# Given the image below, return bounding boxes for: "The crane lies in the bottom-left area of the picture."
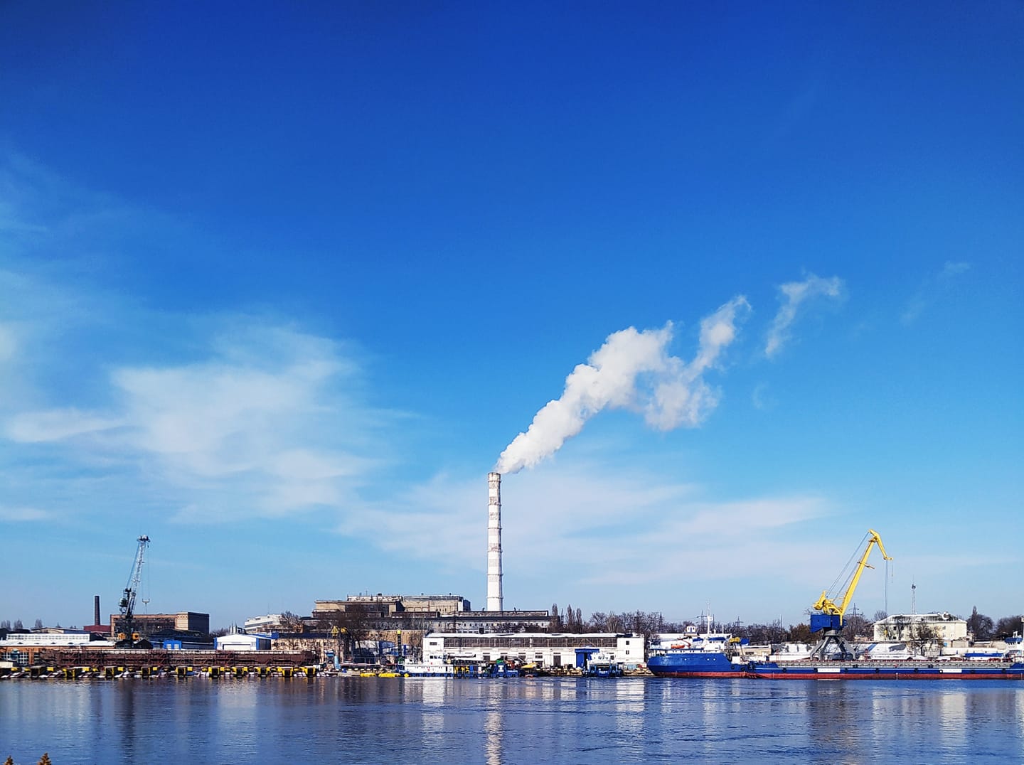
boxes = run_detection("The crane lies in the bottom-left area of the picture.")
[118,537,154,640]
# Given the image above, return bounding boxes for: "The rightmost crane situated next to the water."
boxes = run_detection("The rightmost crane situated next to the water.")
[809,529,893,661]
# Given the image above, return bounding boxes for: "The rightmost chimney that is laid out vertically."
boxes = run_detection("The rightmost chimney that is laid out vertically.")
[486,471,503,610]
